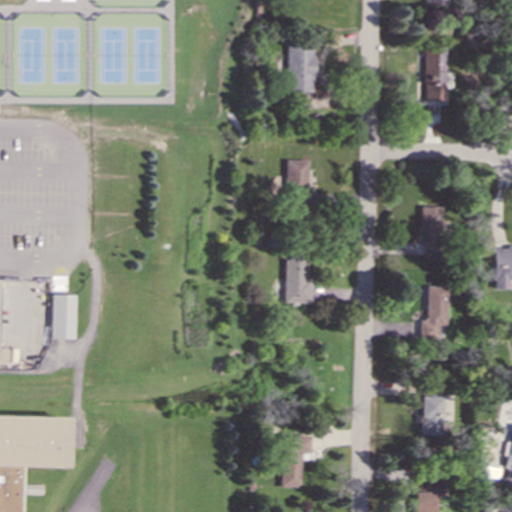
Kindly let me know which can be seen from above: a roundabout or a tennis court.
tennis court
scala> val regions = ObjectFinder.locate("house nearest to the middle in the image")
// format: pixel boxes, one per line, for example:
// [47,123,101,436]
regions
[286,260,316,304]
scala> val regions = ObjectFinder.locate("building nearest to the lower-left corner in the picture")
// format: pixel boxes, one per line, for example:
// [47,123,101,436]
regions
[0,416,76,512]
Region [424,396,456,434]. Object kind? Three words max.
house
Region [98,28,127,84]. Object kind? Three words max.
tennis court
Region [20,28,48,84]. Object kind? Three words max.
tennis court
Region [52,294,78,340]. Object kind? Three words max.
shed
